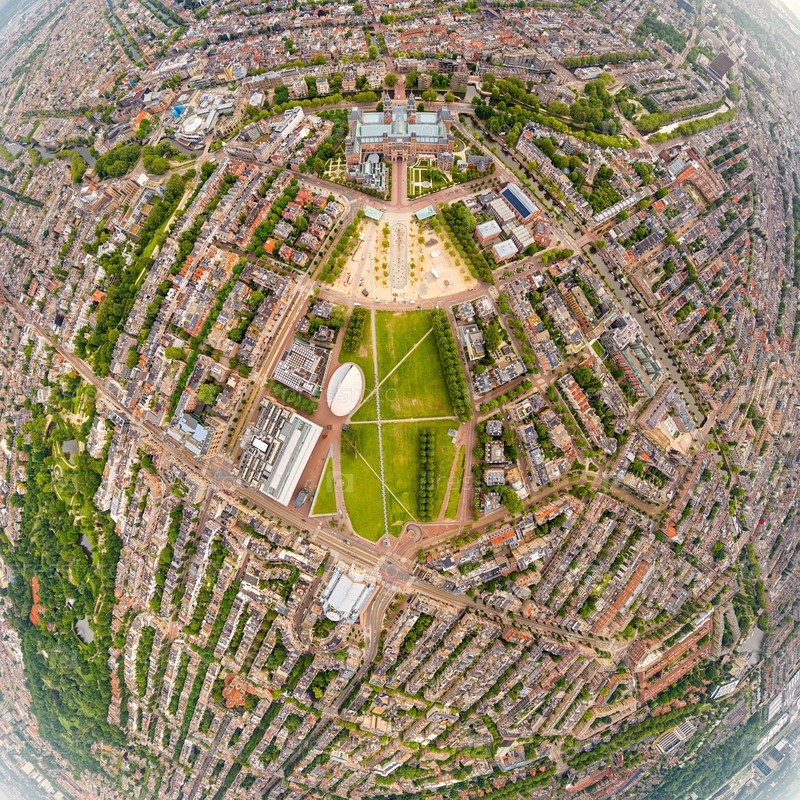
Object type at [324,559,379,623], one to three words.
building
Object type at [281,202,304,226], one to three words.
house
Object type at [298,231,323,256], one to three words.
house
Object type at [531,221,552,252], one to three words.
building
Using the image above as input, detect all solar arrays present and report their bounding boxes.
[502,188,533,220]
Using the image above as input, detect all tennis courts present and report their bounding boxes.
[28,574,44,627]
